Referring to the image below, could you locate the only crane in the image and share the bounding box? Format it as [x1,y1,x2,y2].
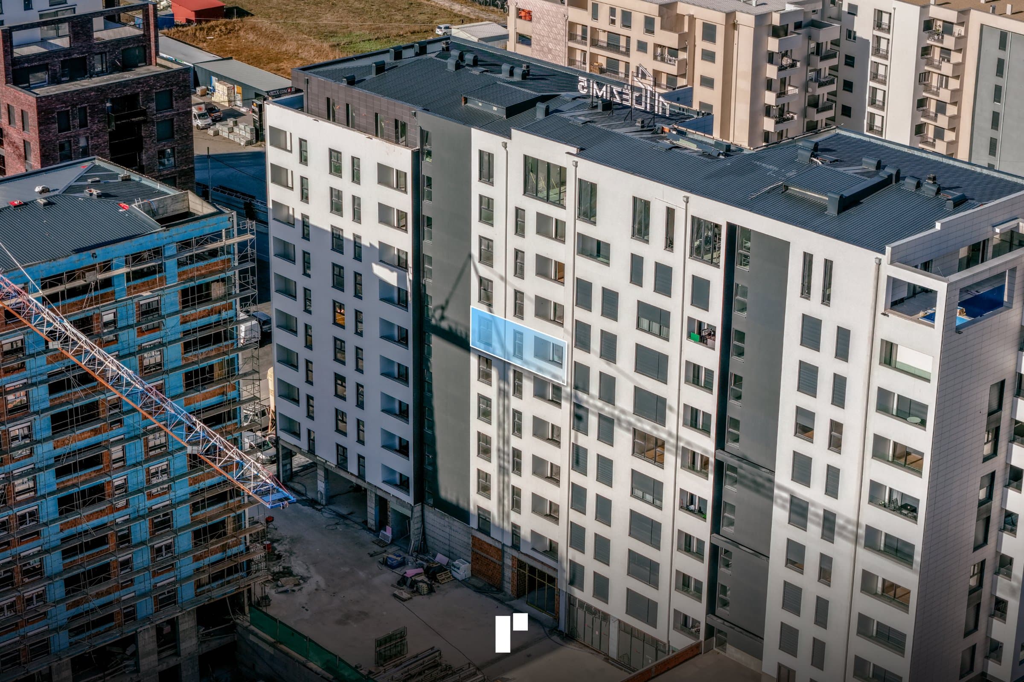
[0,253,302,511]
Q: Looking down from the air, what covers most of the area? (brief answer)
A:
buildings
